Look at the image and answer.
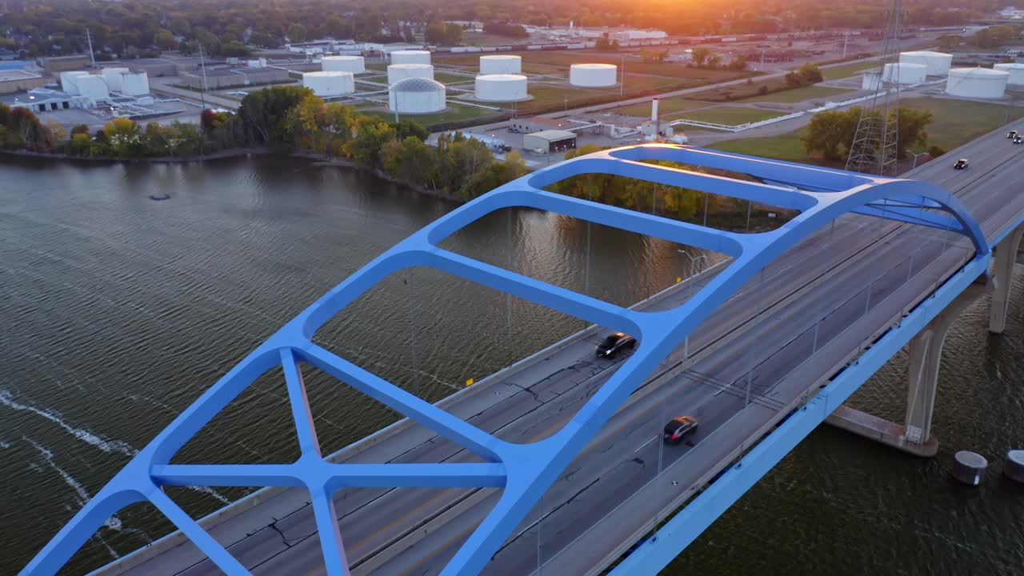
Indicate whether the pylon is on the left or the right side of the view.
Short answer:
right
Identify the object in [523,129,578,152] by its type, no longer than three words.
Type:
building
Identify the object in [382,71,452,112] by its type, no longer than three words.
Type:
storage tank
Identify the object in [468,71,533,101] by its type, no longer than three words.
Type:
storage tank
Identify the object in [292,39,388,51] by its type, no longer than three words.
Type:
building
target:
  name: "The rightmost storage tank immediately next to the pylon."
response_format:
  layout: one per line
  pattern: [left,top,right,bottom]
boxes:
[937,64,1020,99]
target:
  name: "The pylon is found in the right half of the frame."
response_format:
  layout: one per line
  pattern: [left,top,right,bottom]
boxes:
[847,0,923,177]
